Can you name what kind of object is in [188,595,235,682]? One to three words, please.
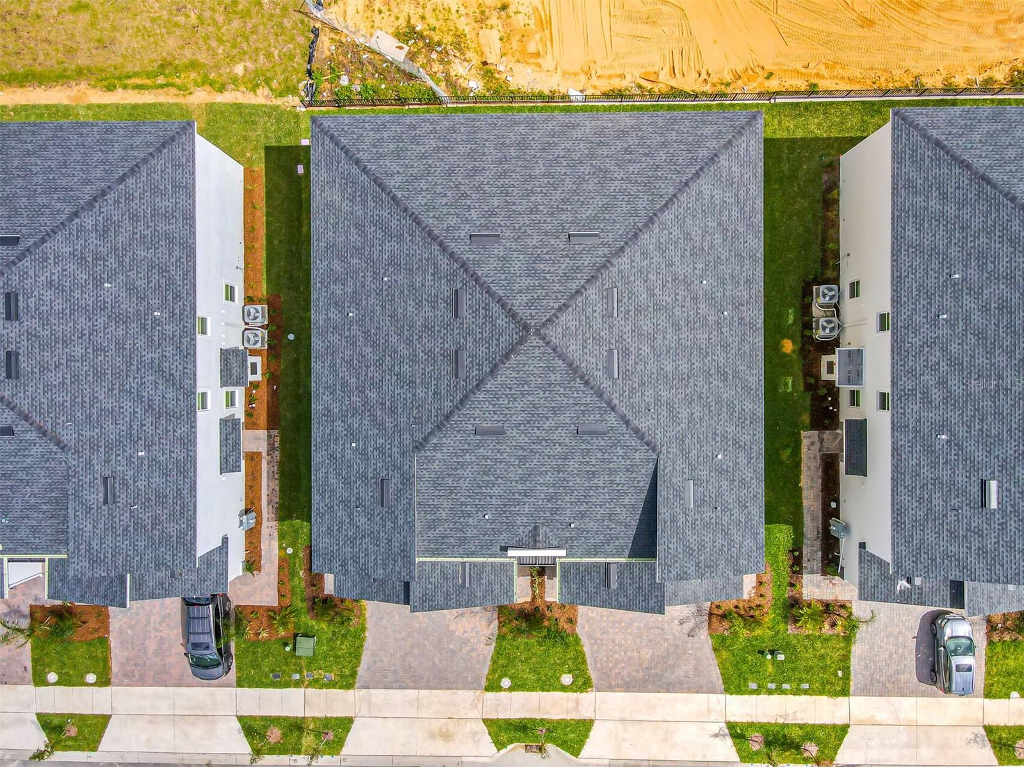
car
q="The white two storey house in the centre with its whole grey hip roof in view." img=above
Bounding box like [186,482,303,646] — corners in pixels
[311,111,765,614]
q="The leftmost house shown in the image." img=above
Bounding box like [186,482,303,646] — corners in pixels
[0,117,247,609]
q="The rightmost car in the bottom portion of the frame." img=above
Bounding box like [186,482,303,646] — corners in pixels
[931,612,984,699]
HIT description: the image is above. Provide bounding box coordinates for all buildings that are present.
[0,117,247,609]
[836,108,1024,616]
[311,111,765,614]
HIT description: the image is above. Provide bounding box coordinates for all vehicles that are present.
[931,612,984,699]
[188,595,235,682]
